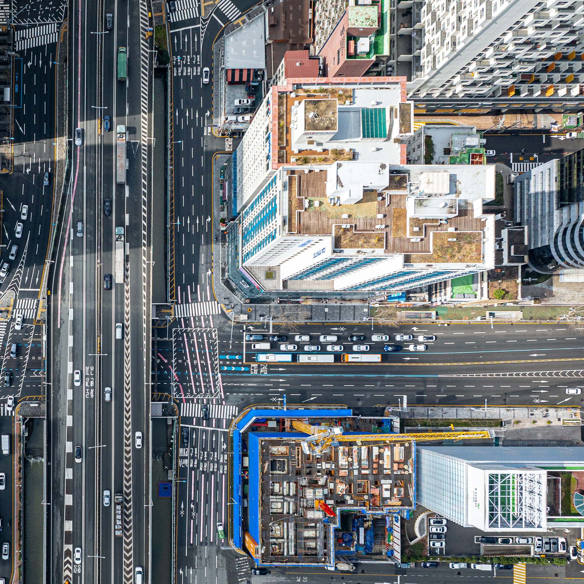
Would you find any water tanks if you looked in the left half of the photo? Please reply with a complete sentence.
No, I see no water tank in the left half of the photo.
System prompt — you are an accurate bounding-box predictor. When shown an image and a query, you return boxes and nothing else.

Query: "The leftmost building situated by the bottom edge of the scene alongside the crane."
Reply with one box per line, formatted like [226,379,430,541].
[248,432,417,565]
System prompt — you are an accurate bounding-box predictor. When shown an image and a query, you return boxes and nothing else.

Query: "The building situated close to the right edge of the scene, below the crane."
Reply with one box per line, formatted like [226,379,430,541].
[417,447,584,531]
